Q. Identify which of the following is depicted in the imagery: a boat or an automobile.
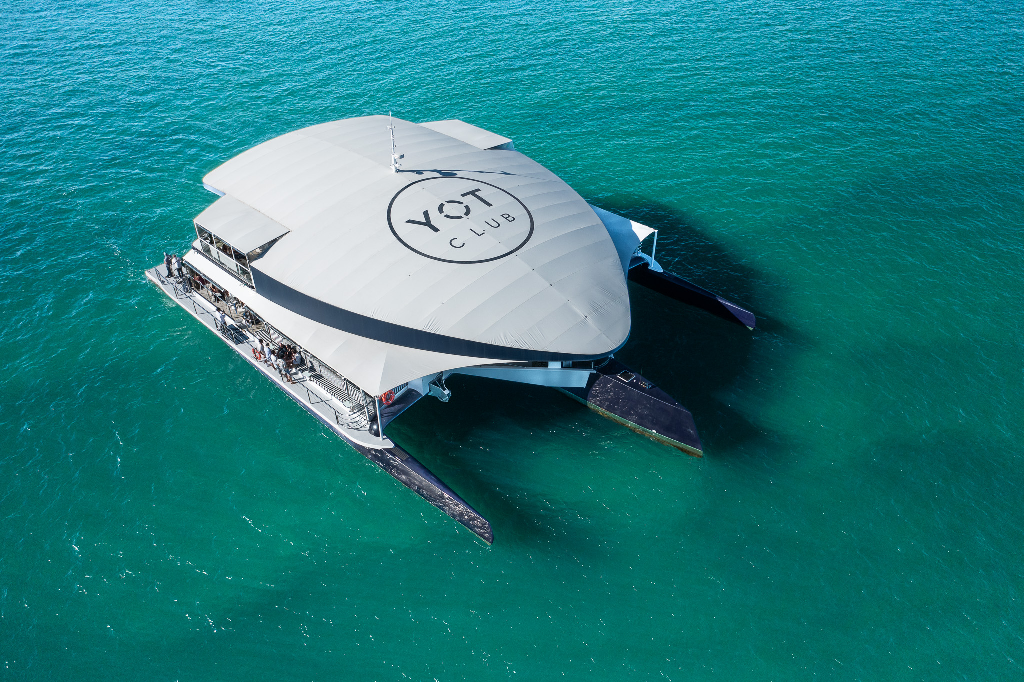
boat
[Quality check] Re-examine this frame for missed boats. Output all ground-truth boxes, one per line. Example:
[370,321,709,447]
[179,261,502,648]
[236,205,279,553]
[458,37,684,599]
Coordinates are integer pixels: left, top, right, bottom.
[147,111,757,546]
